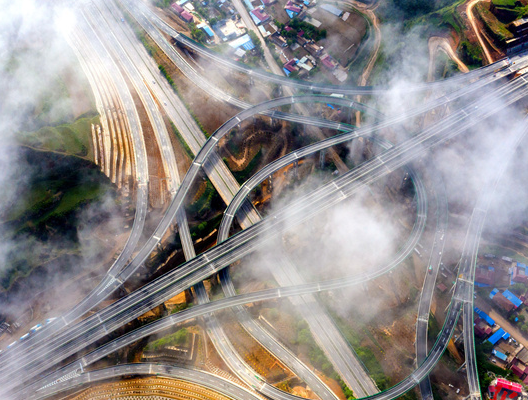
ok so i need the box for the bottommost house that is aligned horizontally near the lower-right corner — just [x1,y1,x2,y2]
[485,376,522,395]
